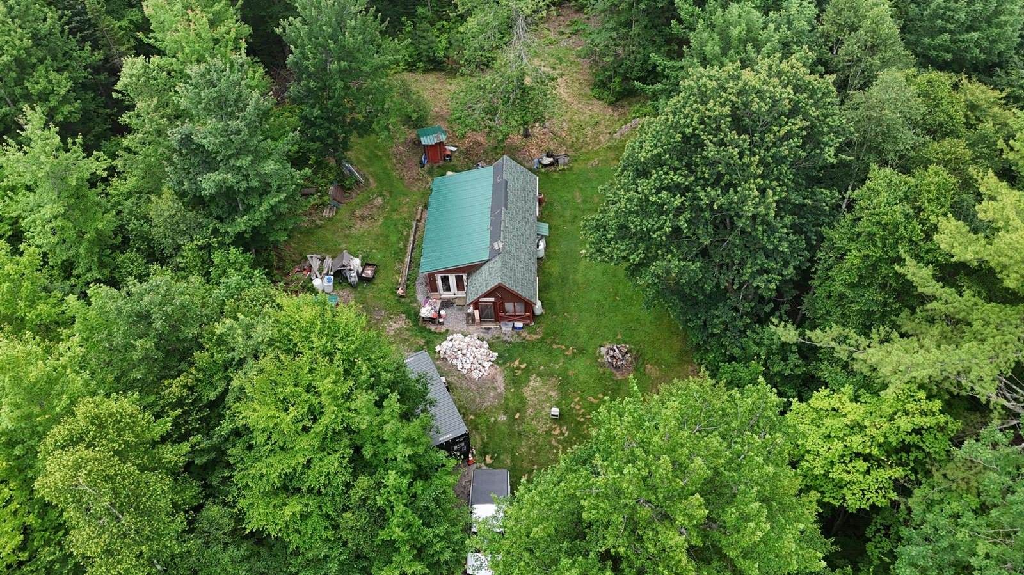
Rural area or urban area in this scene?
rural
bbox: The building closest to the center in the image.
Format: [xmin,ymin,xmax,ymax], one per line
[420,156,546,334]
